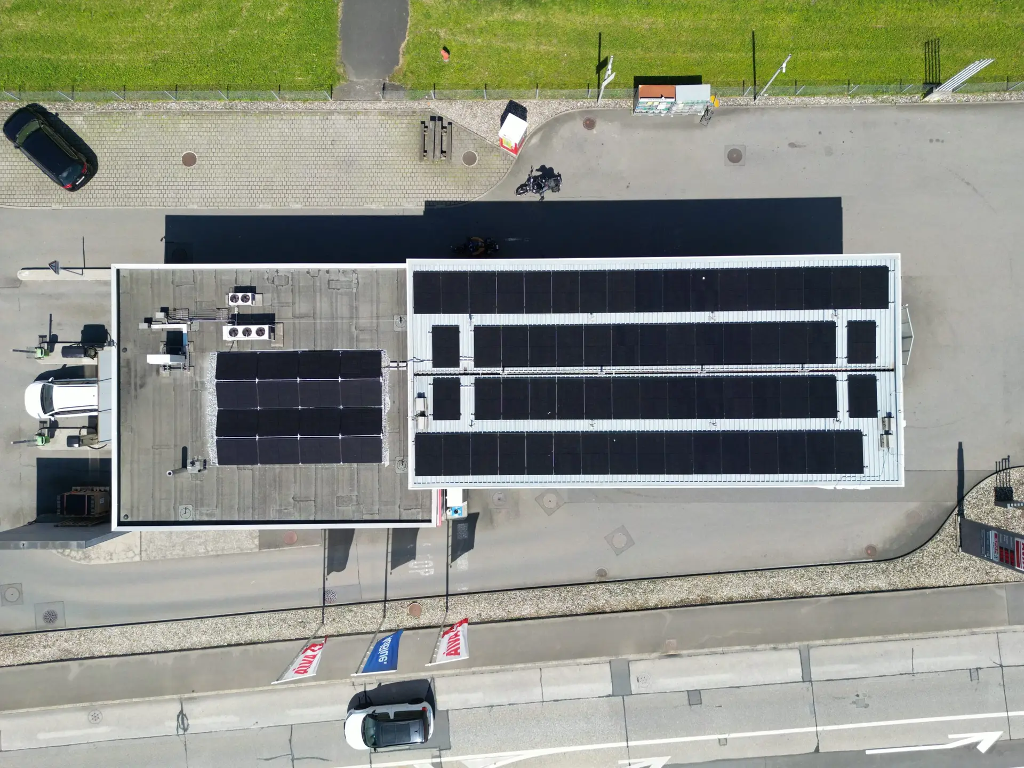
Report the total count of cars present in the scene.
3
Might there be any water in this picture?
No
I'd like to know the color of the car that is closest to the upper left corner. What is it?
black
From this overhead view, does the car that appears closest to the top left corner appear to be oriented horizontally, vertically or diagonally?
diagonally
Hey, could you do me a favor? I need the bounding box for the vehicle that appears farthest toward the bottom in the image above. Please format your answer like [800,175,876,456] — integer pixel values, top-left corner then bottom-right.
[344,696,434,756]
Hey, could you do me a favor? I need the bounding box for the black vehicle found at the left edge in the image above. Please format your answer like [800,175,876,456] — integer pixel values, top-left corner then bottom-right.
[3,103,97,195]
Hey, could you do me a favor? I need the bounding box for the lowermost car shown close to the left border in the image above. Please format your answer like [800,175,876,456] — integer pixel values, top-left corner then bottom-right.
[24,375,112,426]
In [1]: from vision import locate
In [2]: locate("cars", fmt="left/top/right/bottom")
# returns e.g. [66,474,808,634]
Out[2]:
[24,375,112,426]
[344,696,434,756]
[3,103,97,195]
